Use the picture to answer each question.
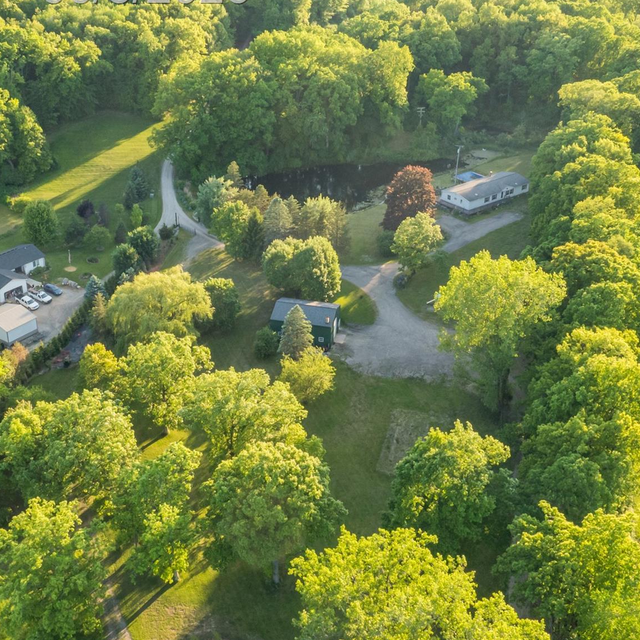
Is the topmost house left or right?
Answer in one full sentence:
You can find the topmost house on the right side of the picture.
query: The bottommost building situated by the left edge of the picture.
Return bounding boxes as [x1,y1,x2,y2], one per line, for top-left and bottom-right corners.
[0,299,39,345]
